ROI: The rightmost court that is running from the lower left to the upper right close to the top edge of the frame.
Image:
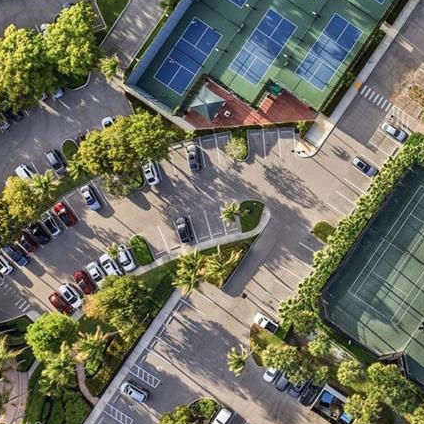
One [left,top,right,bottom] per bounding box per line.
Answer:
[294,12,363,90]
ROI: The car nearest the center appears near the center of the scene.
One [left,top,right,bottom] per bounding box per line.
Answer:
[176,217,192,243]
